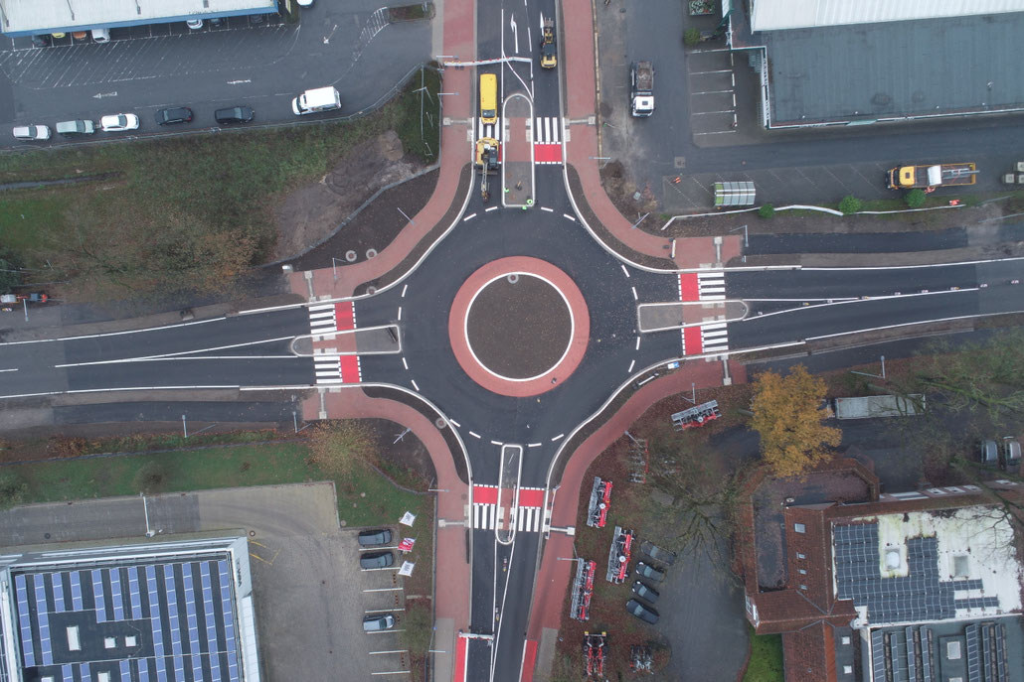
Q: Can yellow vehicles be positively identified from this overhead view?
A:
Yes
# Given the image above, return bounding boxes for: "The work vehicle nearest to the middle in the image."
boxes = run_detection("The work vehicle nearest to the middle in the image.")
[477,138,498,199]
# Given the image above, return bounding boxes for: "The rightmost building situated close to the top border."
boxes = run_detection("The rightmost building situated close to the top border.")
[724,0,1024,137]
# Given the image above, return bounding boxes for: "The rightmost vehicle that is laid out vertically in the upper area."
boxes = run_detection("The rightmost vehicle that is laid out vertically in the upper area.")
[630,62,656,120]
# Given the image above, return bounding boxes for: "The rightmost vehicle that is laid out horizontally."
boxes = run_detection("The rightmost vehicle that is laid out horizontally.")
[881,163,979,190]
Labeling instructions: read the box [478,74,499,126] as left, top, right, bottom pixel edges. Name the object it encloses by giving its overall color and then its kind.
yellow vehicle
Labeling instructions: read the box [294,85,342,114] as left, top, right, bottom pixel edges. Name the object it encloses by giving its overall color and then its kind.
white van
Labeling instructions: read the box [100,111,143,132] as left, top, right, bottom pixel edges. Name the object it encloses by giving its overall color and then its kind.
white car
